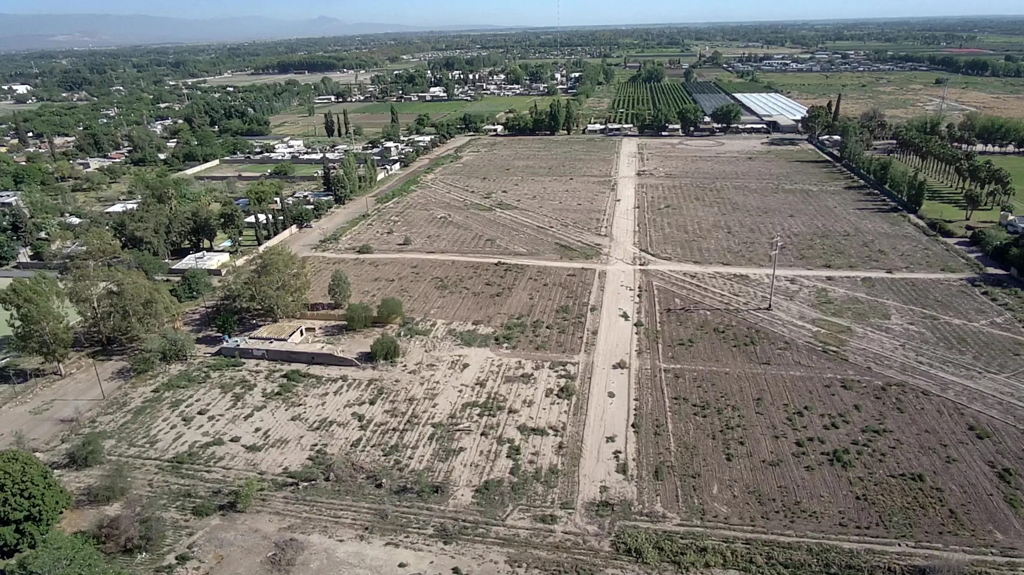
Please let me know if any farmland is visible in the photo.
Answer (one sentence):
Yes, the picture does contain farmland.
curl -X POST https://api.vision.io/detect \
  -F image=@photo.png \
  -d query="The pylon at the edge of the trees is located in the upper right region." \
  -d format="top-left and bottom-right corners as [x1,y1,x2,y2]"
[937,77,952,114]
